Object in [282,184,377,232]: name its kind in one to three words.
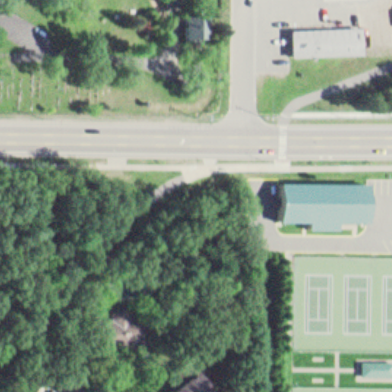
building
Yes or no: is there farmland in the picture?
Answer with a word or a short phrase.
No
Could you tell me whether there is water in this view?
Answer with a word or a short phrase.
No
